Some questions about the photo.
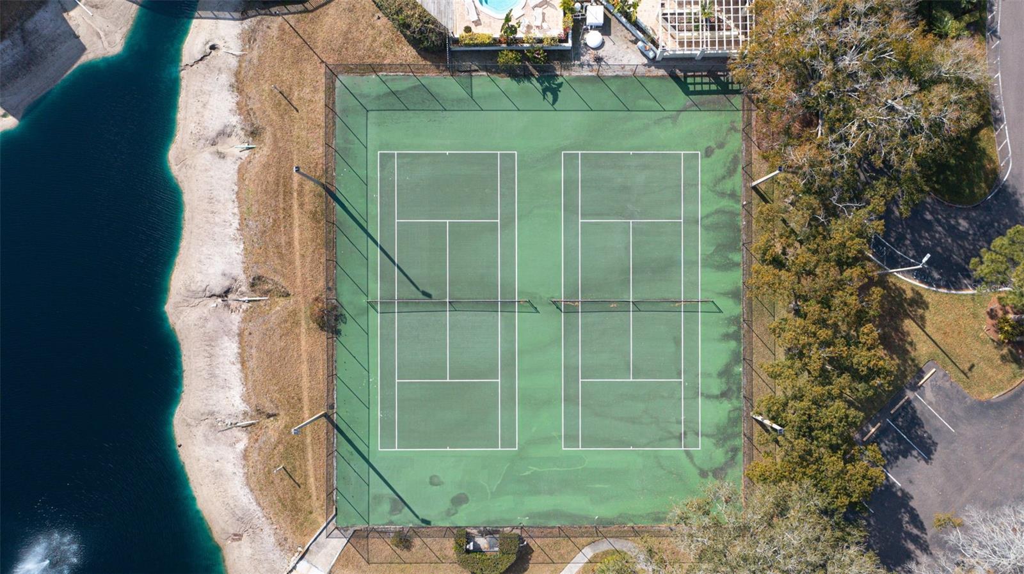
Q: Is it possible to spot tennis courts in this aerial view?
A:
Yes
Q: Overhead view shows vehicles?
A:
No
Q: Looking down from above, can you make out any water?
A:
Yes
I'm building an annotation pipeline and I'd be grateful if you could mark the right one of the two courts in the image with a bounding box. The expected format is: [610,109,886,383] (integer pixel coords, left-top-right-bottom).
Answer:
[561,150,702,451]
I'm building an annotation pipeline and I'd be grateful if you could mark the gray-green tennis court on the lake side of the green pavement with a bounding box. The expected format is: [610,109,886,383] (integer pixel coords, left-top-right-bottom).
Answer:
[379,151,517,450]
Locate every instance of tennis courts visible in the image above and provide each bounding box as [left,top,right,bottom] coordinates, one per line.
[379,151,517,450]
[561,150,702,451]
